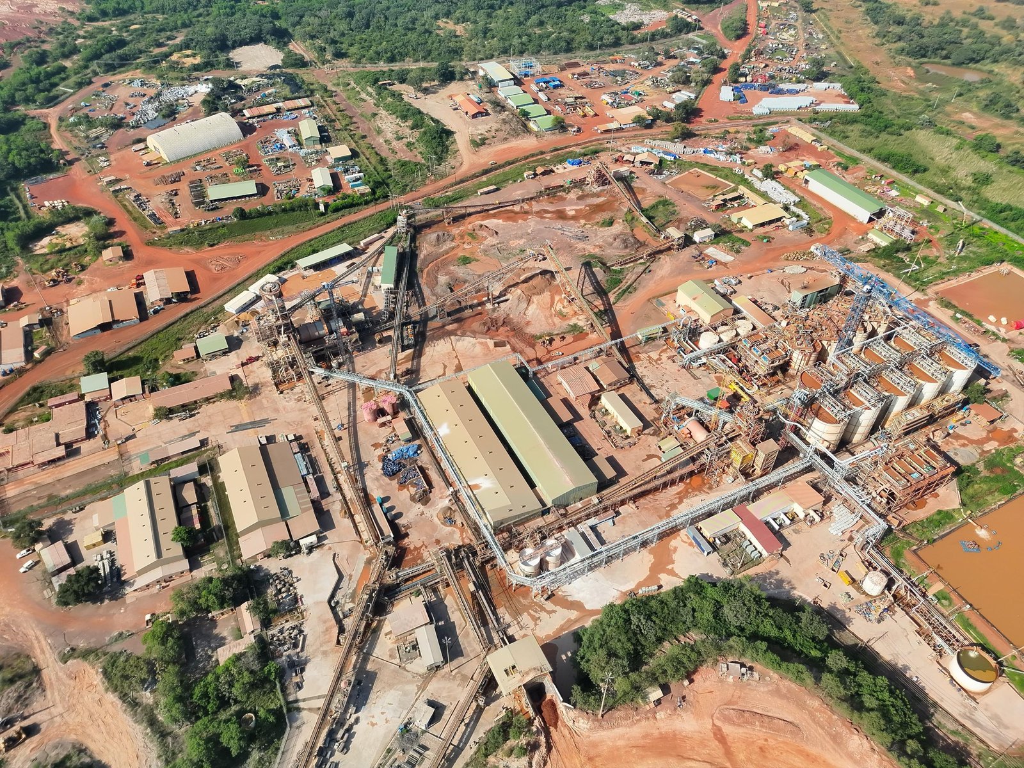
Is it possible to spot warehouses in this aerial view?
Yes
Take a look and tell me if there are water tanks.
Yes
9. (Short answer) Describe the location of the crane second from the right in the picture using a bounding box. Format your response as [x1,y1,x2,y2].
[707,357,809,426]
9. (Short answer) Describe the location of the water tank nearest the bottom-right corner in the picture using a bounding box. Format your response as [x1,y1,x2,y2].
[944,641,1006,697]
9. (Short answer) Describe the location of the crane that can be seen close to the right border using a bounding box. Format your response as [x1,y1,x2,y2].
[811,245,1006,372]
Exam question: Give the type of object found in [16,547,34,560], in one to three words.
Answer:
vehicle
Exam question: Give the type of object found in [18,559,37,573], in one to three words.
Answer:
vehicle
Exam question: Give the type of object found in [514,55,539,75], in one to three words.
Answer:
building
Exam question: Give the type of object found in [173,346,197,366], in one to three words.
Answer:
shed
